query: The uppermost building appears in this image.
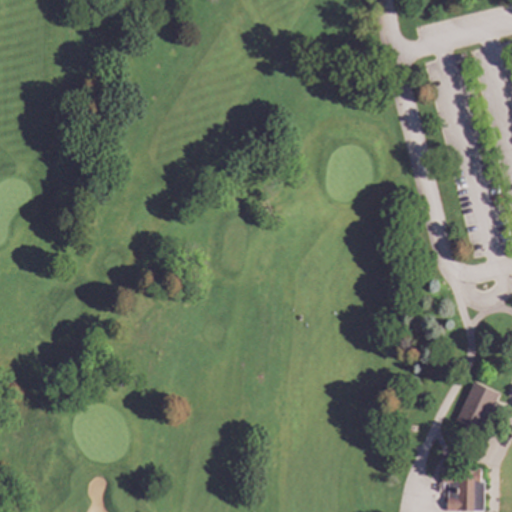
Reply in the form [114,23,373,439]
[458,380,498,428]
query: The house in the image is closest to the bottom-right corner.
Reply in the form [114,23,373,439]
[442,468,484,511]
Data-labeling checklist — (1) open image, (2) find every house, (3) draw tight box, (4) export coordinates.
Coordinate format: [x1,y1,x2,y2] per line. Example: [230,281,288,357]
[442,468,484,511]
[458,380,498,428]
